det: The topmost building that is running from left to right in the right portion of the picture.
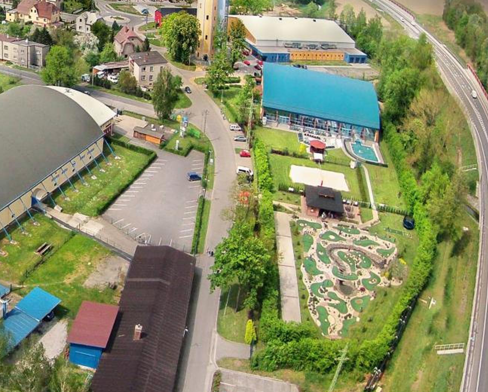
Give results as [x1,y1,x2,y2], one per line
[229,14,368,64]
